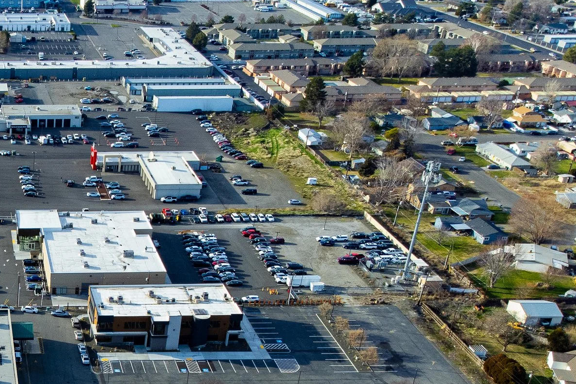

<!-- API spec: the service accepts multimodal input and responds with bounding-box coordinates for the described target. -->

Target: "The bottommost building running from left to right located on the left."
[86,284,246,350]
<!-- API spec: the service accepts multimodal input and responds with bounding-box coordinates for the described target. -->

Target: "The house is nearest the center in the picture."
[296,131,326,149]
